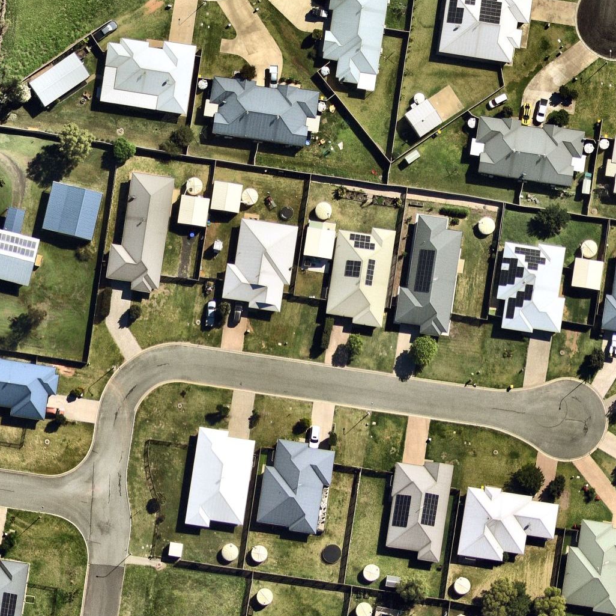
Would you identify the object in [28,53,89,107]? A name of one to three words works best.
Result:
shed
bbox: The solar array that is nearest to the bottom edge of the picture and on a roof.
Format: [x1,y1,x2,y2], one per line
[0,593,16,616]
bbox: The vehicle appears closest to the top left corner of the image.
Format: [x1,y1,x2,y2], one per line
[92,20,118,39]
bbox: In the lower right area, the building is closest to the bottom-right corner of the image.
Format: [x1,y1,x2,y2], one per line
[563,519,616,615]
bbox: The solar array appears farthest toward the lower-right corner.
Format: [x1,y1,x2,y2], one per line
[421,494,438,526]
